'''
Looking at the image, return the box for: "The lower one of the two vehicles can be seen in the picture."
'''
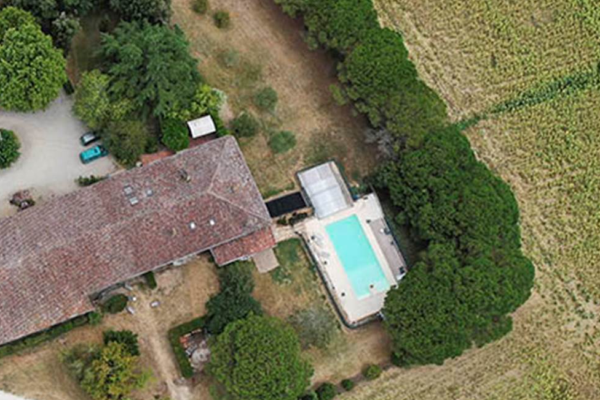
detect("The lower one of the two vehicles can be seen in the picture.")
[80,145,109,163]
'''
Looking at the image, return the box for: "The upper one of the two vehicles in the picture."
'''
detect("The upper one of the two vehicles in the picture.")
[80,129,107,146]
